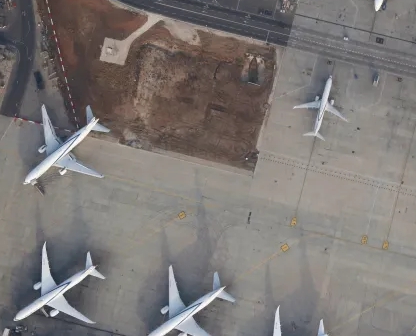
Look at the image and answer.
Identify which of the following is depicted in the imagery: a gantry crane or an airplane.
airplane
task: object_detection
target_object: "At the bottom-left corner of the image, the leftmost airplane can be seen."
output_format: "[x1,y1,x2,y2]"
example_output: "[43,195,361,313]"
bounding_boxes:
[14,242,105,323]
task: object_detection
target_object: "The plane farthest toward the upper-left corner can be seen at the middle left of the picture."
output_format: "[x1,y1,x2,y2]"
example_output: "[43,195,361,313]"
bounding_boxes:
[24,104,109,184]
